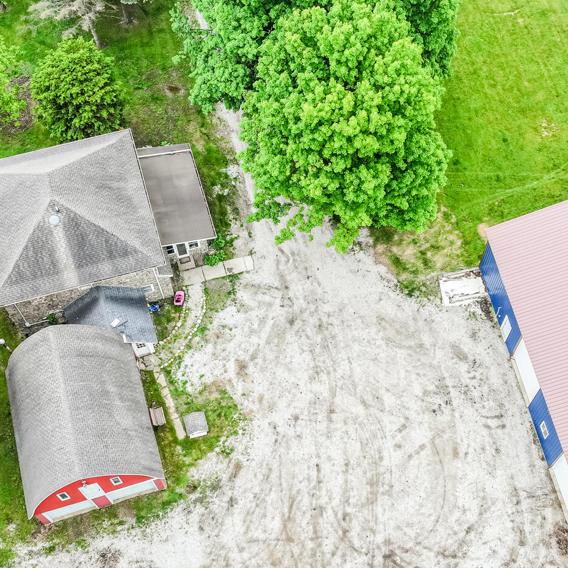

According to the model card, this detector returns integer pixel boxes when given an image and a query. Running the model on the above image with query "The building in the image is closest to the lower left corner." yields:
[4,322,166,523]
